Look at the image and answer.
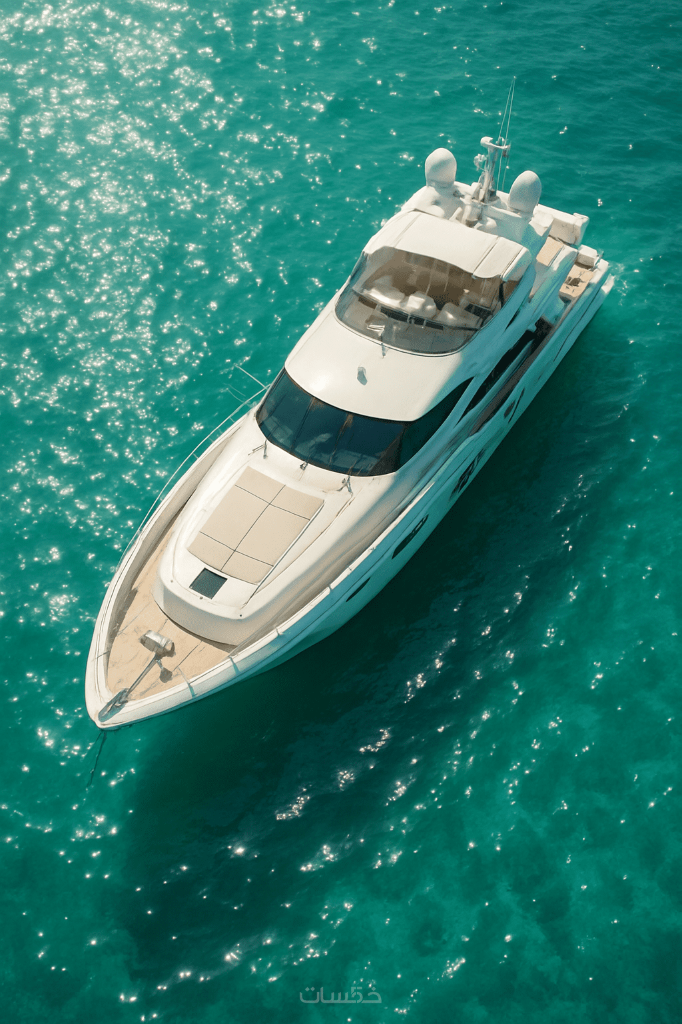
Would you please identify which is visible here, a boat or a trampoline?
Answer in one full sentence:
Of the two, only a boat appears.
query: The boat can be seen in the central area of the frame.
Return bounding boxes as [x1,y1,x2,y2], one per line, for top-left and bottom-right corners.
[84,79,622,732]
